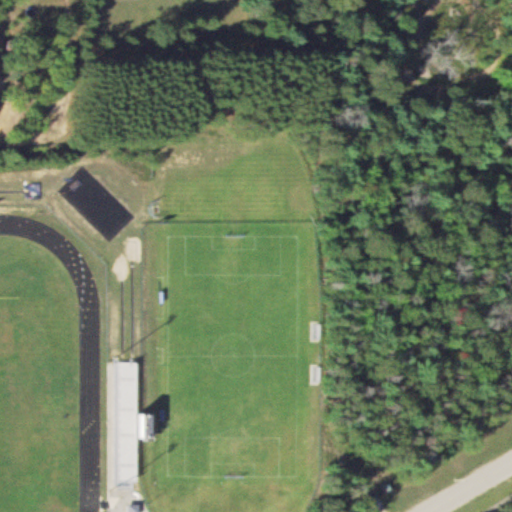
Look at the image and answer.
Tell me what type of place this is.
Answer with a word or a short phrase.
sports ground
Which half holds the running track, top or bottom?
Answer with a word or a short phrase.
bottom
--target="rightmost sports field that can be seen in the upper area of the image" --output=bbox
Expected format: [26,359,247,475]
[161,140,313,218]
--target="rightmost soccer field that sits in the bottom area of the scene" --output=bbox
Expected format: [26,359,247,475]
[150,224,318,512]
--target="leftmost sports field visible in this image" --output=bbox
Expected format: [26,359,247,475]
[0,236,80,512]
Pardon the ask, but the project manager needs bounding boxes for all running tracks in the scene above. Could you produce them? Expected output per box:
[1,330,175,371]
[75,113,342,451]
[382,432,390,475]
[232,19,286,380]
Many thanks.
[0,216,100,512]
